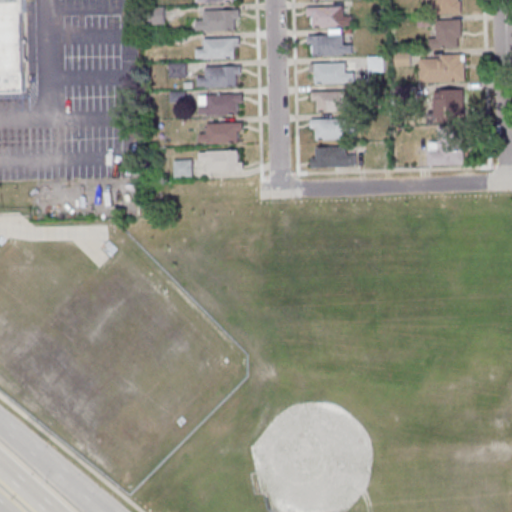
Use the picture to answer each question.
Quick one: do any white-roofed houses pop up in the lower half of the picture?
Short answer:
No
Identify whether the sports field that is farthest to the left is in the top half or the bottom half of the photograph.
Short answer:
bottom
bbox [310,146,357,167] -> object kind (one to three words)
house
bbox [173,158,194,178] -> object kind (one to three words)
building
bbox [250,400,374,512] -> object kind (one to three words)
baseball field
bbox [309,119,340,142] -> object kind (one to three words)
house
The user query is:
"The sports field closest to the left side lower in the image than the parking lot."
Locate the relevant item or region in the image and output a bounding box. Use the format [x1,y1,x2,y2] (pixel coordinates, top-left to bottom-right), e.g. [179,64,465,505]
[0,226,248,494]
